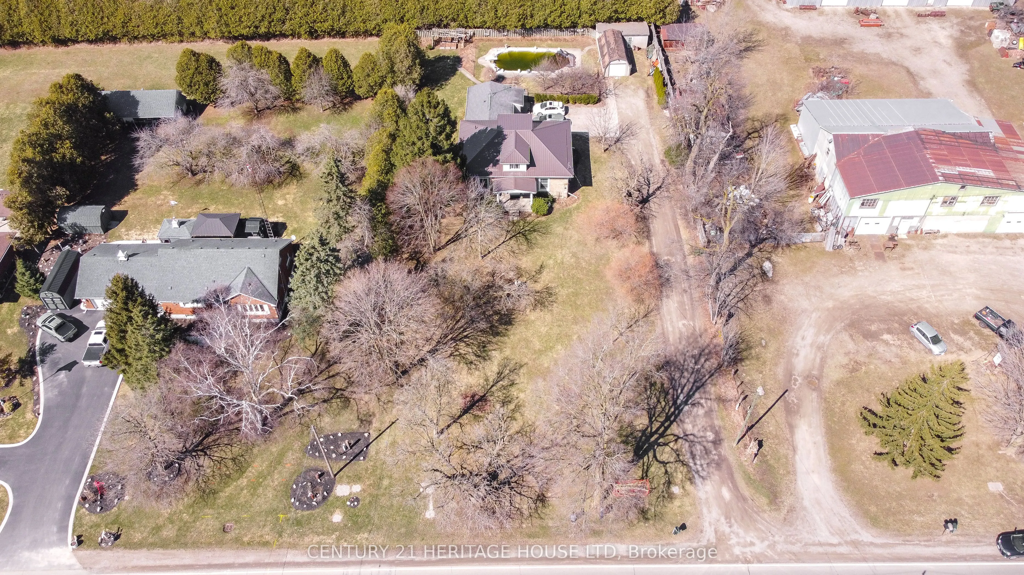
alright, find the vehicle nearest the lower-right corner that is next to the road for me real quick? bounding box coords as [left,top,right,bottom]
[993,531,1024,560]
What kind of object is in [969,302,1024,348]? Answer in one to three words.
truck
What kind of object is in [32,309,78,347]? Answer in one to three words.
truck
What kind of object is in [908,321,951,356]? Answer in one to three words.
car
